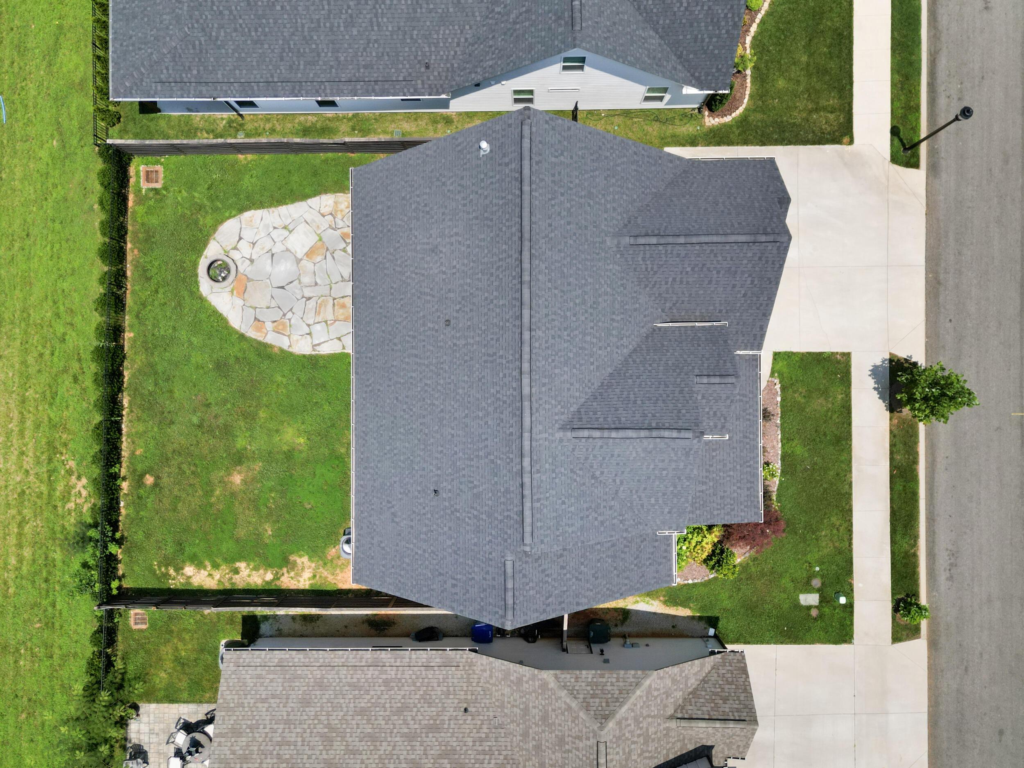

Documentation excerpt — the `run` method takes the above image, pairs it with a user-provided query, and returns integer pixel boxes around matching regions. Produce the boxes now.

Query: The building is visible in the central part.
[351,107,793,631]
